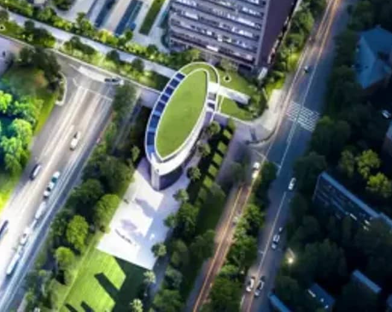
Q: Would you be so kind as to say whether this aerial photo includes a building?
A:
Yes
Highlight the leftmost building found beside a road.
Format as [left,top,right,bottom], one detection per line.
[137,61,218,190]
